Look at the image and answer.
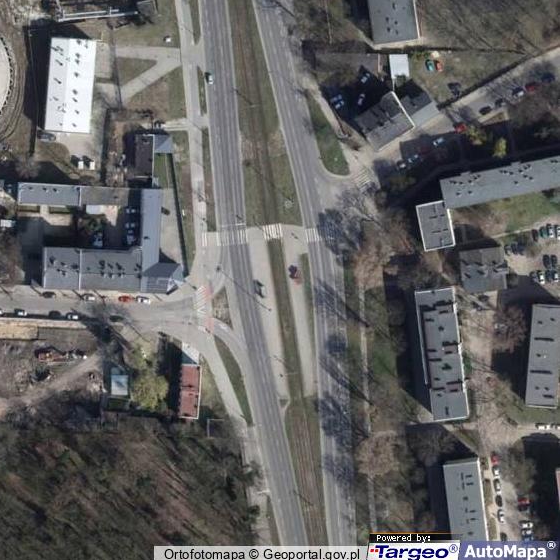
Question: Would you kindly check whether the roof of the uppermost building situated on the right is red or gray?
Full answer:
In this view, the roof of the uppermost building situated on the right is gray.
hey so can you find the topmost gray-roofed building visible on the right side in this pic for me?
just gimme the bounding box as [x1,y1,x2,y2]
[366,0,420,44]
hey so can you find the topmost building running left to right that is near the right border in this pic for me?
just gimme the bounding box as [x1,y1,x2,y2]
[437,155,560,209]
